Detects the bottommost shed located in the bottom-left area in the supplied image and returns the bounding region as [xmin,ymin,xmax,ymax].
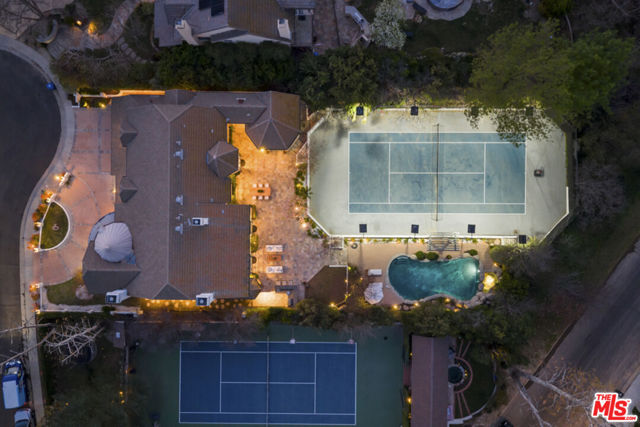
[107,318,129,347]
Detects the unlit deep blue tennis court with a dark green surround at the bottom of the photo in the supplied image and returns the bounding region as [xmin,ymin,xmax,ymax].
[131,323,402,427]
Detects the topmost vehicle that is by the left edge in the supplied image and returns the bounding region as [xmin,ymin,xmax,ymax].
[2,357,31,412]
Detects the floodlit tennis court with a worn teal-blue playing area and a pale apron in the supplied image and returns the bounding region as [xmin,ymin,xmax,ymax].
[309,111,567,238]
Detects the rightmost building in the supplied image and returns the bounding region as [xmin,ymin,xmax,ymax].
[411,333,448,427]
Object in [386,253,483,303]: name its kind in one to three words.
swimming pool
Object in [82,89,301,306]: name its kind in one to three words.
house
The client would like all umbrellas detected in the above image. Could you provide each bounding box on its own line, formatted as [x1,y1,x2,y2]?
[363,283,382,303]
